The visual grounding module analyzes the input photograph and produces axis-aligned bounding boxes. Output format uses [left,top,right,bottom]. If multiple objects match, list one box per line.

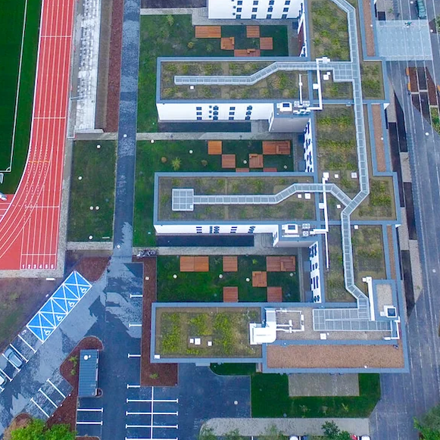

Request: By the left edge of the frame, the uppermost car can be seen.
[5,349,25,370]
